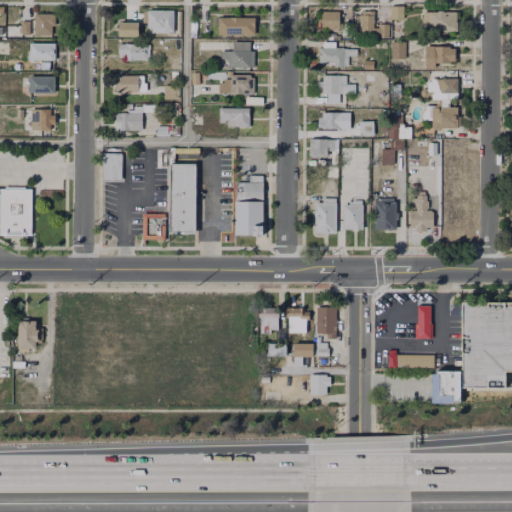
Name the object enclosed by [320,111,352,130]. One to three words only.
house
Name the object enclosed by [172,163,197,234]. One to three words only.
building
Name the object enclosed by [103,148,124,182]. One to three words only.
building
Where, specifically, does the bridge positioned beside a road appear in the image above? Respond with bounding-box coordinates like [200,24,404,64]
[309,436,412,512]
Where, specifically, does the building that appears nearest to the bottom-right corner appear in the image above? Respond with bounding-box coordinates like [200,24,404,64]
[432,372,462,404]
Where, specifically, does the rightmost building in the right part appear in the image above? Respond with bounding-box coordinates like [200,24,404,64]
[462,303,512,388]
